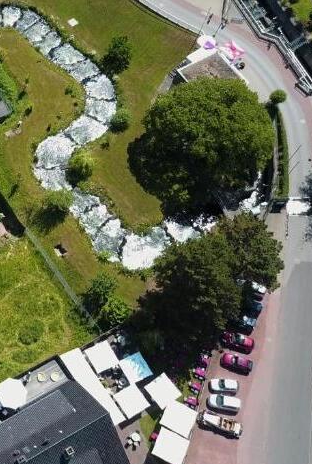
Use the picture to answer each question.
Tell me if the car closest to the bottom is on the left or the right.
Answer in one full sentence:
It is on the right.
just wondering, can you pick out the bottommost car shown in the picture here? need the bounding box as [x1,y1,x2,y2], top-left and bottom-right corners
[201,414,241,437]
